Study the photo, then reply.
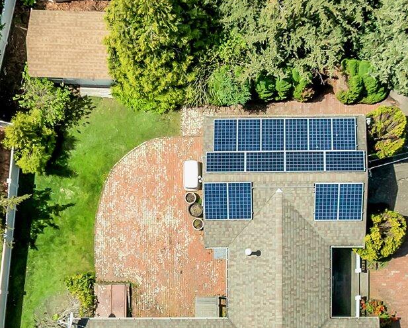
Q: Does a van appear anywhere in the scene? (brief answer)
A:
No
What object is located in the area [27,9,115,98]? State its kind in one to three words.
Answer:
shed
